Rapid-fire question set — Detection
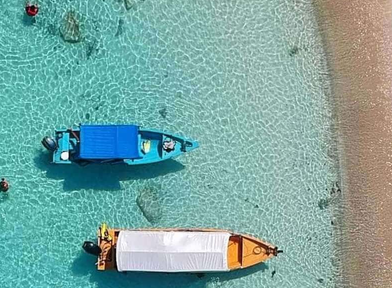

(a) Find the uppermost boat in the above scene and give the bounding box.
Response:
[40,126,199,164]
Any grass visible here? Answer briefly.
No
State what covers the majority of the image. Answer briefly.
water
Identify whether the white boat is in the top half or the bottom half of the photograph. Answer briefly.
bottom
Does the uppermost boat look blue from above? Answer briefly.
Yes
